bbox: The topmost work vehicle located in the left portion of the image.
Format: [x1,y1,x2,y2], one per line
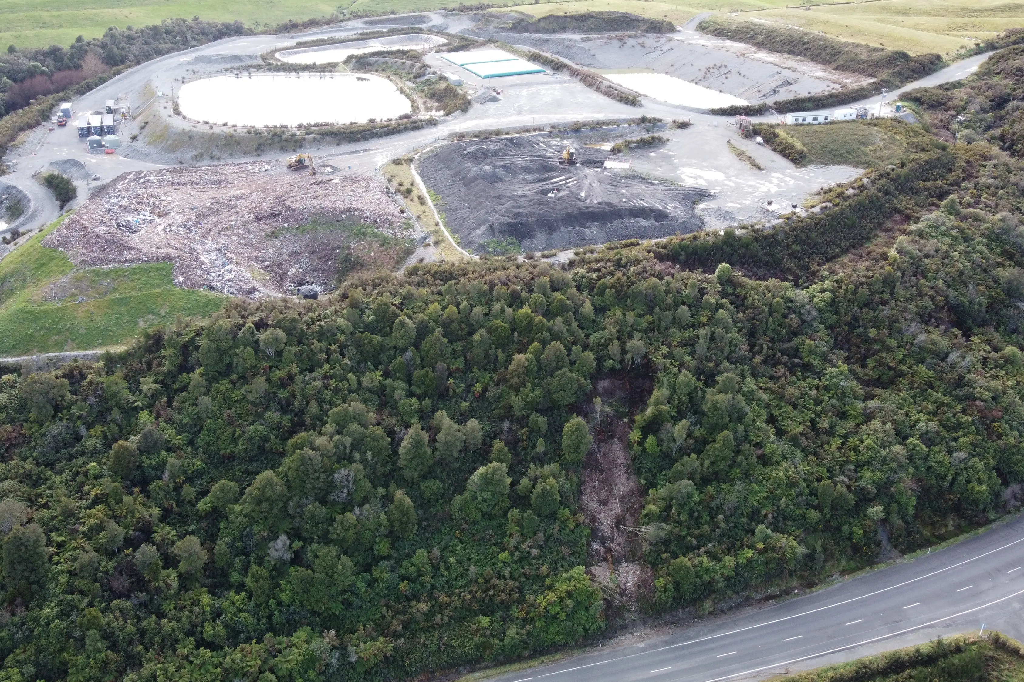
[54,110,68,127]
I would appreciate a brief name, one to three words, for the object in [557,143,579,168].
work vehicle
